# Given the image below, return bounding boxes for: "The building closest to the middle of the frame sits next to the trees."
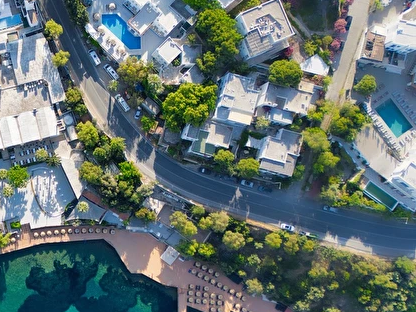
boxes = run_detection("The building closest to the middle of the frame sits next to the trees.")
[178,122,234,156]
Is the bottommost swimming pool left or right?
right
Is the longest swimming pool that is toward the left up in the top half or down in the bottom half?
top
